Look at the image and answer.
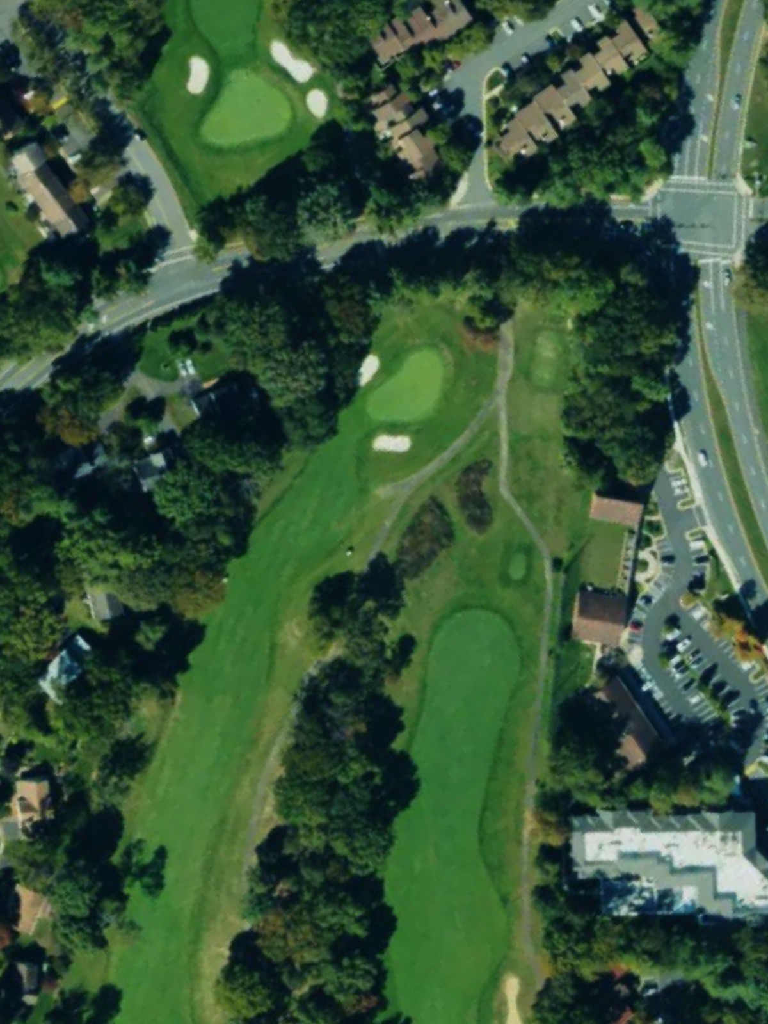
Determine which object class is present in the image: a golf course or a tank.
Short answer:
golf course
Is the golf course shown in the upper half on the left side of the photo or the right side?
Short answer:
left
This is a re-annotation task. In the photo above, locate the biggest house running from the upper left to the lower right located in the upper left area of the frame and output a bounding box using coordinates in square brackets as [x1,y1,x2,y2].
[11,141,88,238]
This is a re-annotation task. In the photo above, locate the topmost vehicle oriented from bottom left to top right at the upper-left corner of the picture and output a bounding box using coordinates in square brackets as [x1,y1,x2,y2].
[51,97,67,109]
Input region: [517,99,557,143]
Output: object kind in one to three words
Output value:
house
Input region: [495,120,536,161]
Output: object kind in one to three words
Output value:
house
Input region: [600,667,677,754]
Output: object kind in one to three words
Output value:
building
